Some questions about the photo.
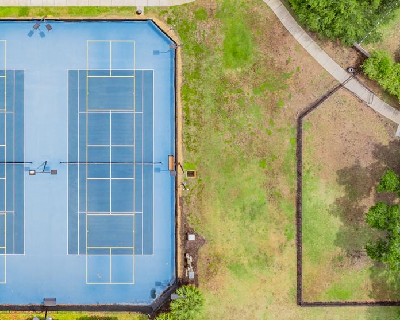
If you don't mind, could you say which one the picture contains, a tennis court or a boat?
tennis court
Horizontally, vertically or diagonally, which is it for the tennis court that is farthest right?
vertically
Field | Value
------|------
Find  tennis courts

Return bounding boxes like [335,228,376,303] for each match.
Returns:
[0,40,25,284]
[68,40,154,284]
